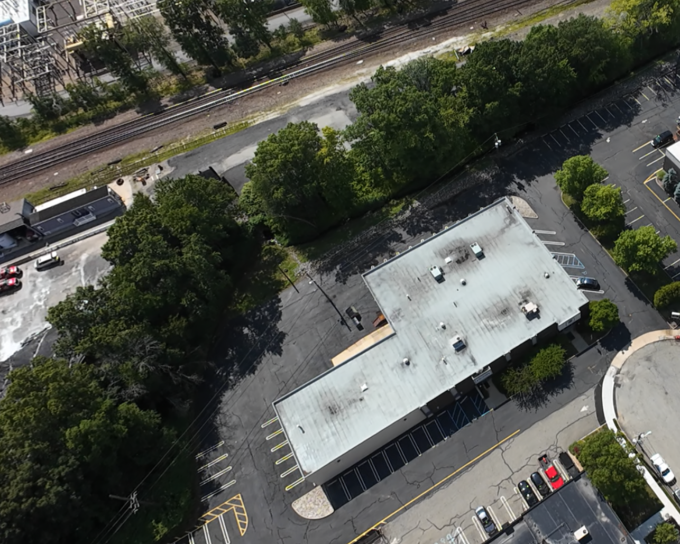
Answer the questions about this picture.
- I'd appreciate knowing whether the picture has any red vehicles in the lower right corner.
Yes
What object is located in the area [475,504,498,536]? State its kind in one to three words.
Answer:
car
